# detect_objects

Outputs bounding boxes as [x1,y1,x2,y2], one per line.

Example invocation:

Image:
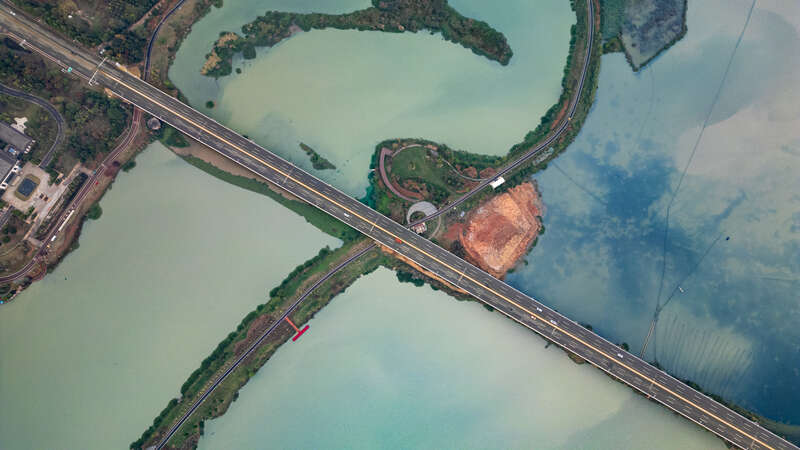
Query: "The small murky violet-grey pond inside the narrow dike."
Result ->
[600,0,686,68]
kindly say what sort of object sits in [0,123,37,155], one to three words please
building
